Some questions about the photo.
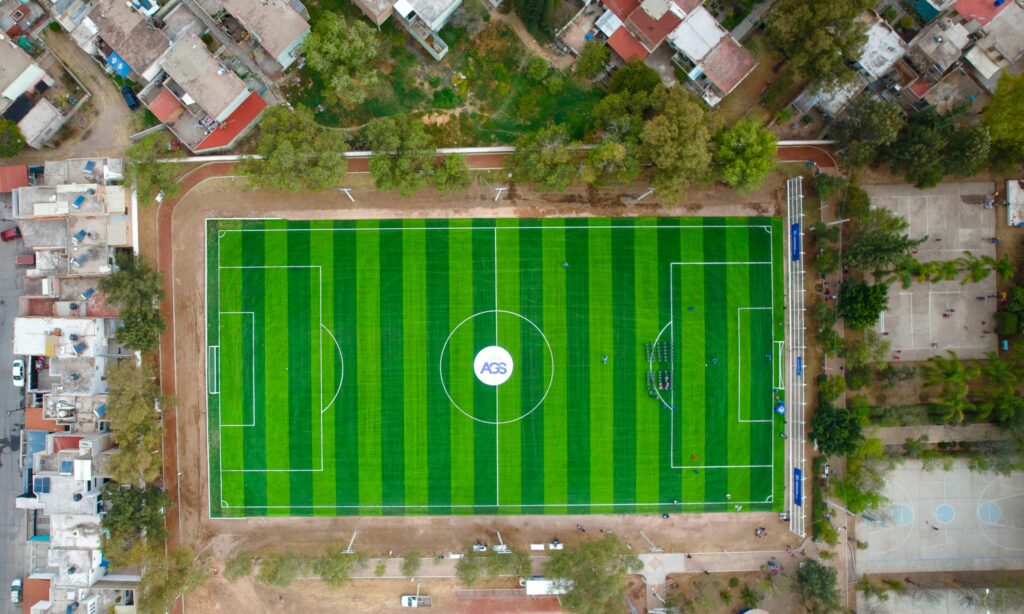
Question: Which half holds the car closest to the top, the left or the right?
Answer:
left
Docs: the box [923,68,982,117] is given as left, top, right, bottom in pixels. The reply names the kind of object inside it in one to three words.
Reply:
house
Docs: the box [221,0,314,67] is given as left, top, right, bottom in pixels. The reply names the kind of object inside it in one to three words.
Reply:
house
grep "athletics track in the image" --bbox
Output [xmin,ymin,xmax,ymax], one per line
[158,146,837,614]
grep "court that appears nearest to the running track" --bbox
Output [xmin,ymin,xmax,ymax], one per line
[864,181,996,262]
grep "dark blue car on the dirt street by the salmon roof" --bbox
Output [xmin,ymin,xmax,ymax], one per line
[117,82,140,109]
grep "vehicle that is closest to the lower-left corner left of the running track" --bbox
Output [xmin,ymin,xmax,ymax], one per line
[9,578,23,604]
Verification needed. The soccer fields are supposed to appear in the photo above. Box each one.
[206,215,784,519]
